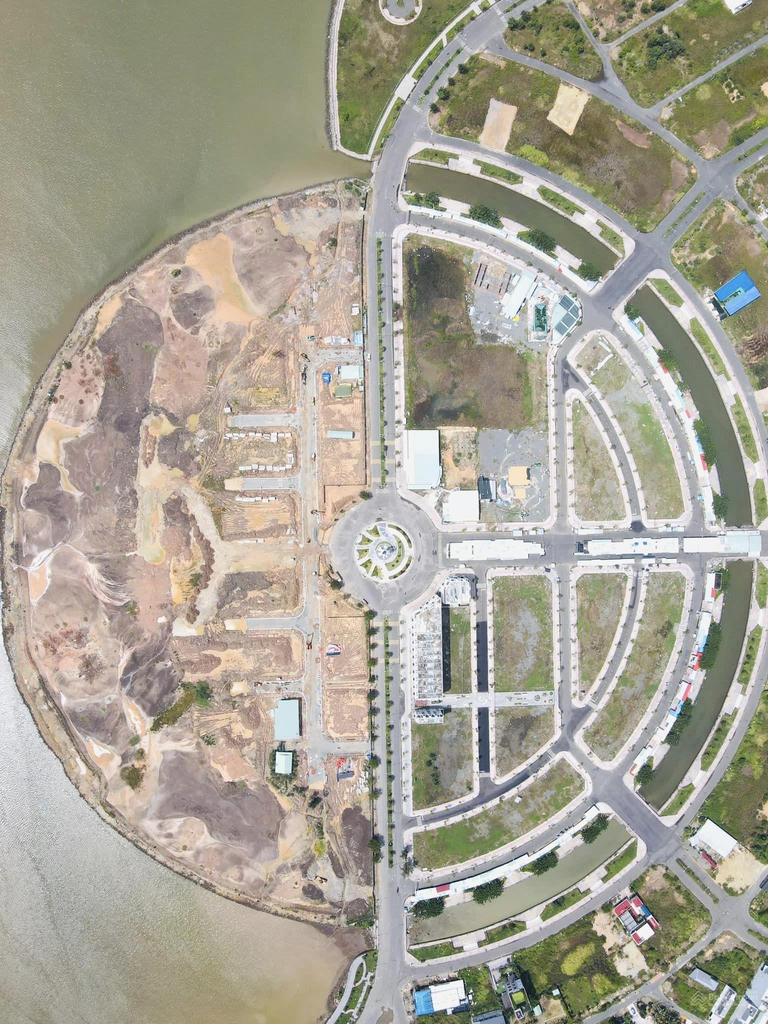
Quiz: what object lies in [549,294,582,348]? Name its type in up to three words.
building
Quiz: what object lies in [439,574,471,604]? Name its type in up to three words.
house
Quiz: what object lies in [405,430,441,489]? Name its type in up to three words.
building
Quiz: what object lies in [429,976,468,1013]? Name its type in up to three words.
house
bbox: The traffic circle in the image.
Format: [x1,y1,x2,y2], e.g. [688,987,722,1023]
[328,496,440,608]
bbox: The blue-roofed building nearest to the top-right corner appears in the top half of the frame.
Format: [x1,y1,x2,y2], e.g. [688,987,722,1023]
[710,271,760,320]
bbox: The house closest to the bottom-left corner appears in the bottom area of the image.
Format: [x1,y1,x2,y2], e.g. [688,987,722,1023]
[276,749,293,774]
